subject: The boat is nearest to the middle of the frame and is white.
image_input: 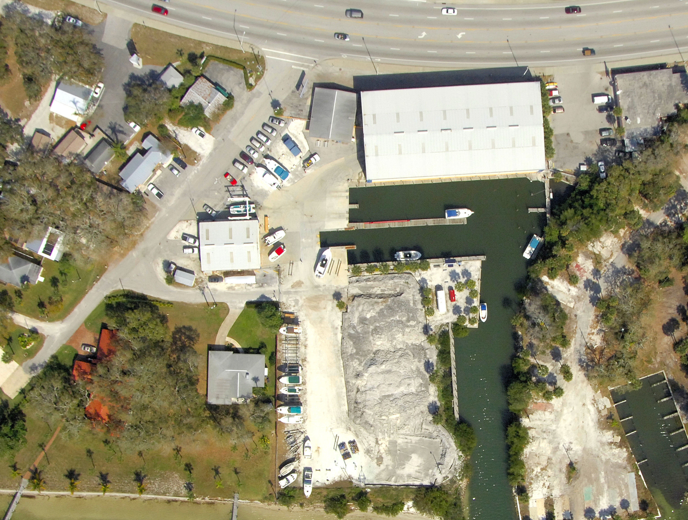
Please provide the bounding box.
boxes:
[314,248,330,278]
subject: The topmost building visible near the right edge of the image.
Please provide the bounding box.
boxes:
[615,69,688,151]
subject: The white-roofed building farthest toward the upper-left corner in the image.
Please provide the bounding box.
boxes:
[51,81,92,121]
